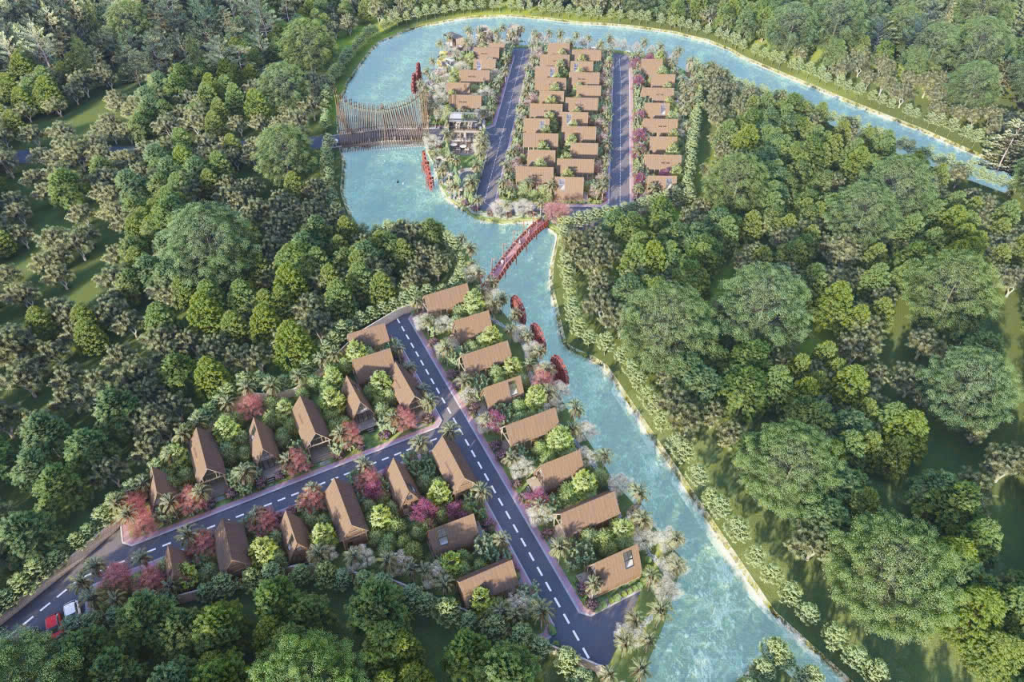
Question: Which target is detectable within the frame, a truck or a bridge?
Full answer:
Visible in the photo is a bridge.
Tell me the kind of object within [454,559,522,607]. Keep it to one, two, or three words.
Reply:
house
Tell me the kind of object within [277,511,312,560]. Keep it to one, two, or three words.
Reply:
house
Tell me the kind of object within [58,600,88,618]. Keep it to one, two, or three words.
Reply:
car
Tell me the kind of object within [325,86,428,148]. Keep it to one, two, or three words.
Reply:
bridge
